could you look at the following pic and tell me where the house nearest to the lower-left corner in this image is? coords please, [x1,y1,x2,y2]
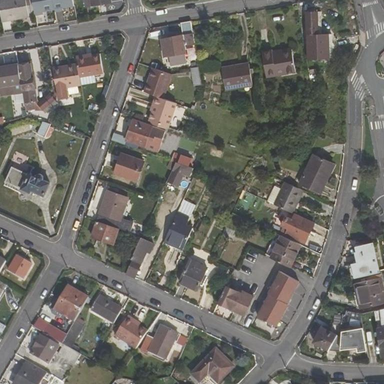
[10,358,48,384]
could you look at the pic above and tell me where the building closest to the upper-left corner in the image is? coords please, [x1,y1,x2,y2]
[0,0,28,22]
